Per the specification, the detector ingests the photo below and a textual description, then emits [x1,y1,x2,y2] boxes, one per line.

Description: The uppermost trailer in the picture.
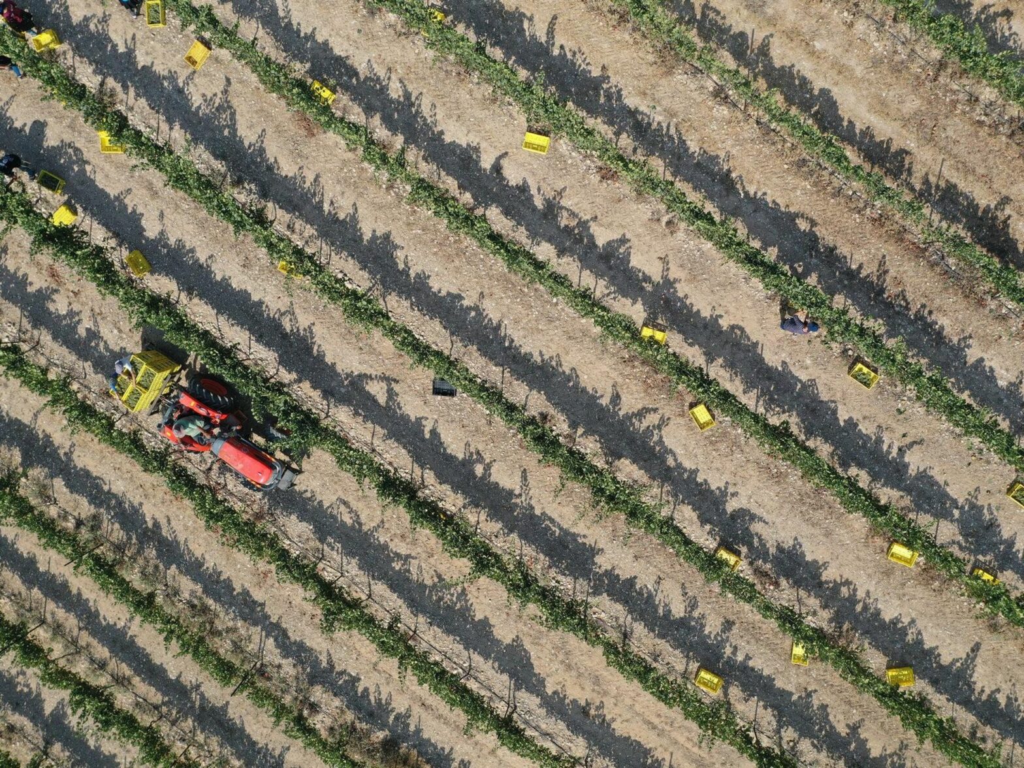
[141,341,189,416]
